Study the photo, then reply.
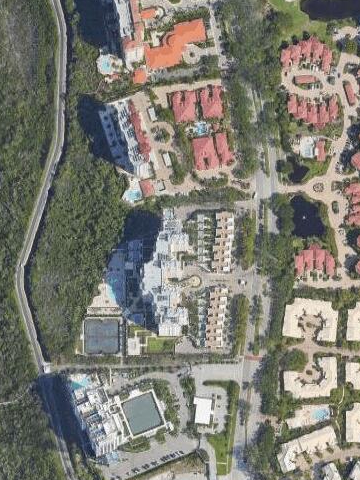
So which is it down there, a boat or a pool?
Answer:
pool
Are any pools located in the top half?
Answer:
Yes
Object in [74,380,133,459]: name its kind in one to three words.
building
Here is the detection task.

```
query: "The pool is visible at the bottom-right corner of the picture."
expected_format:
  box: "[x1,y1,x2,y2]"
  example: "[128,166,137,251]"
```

[311,407,331,420]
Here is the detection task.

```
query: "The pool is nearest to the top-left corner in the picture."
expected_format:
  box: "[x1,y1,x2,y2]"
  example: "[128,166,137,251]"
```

[96,53,119,78]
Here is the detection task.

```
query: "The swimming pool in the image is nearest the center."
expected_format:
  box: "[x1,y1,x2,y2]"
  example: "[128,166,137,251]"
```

[122,180,141,203]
